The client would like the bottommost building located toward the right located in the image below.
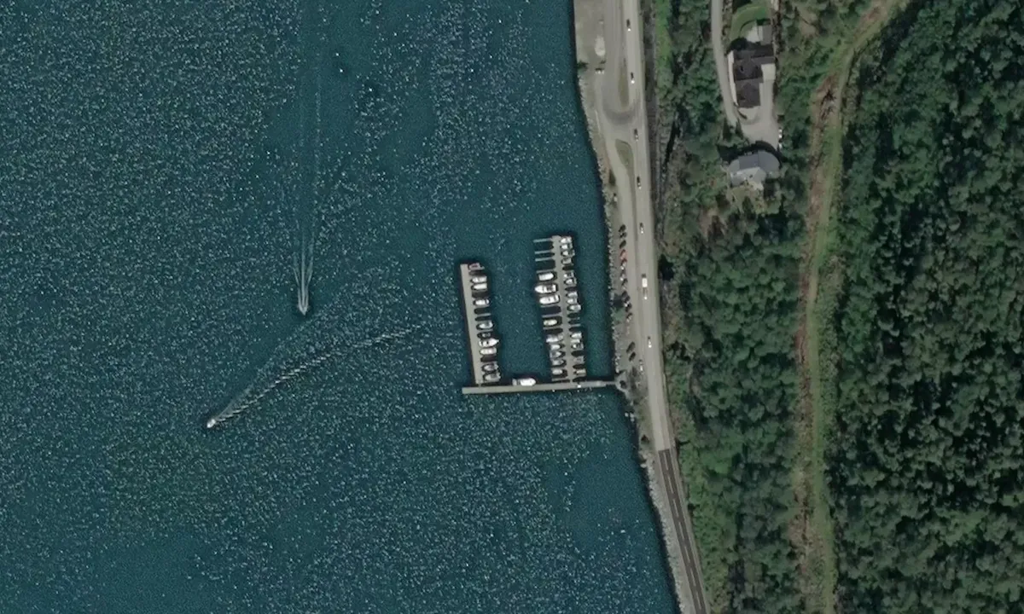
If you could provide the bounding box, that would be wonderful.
[729,149,780,186]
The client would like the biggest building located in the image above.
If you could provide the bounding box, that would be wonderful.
[735,42,776,107]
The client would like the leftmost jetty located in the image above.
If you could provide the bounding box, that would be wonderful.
[461,264,500,386]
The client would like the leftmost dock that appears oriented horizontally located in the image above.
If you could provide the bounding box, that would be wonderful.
[462,380,606,394]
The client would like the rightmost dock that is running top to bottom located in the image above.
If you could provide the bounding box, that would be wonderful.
[535,236,586,380]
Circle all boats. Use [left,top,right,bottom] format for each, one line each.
[572,343,584,349]
[562,250,576,256]
[540,295,560,304]
[560,237,573,243]
[542,319,557,326]
[549,344,561,350]
[473,277,488,283]
[564,272,576,278]
[485,373,501,381]
[207,417,216,425]
[567,298,578,304]
[475,299,490,305]
[573,357,585,363]
[513,378,535,385]
[550,351,562,358]
[478,339,500,348]
[469,262,482,270]
[546,334,563,342]
[550,359,564,366]
[538,273,554,281]
[551,369,563,375]
[566,278,576,284]
[535,284,556,293]
[480,347,497,355]
[572,333,583,339]
[474,283,488,290]
[576,369,587,375]
[570,304,582,311]
[479,321,494,329]
[484,363,499,371]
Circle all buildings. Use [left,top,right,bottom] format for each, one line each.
[729,149,780,186]
[735,42,776,107]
